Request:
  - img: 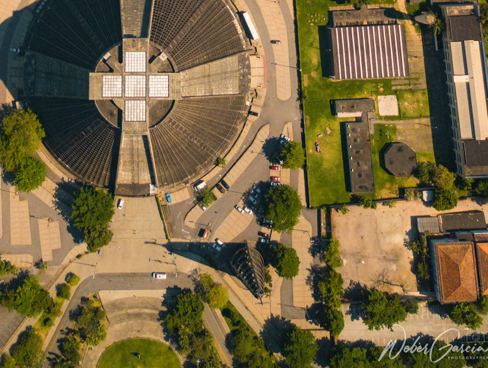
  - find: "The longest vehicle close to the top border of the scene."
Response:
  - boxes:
[242,12,258,38]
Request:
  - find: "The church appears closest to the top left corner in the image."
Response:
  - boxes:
[16,0,257,204]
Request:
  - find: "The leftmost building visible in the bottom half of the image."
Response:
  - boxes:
[230,239,267,303]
